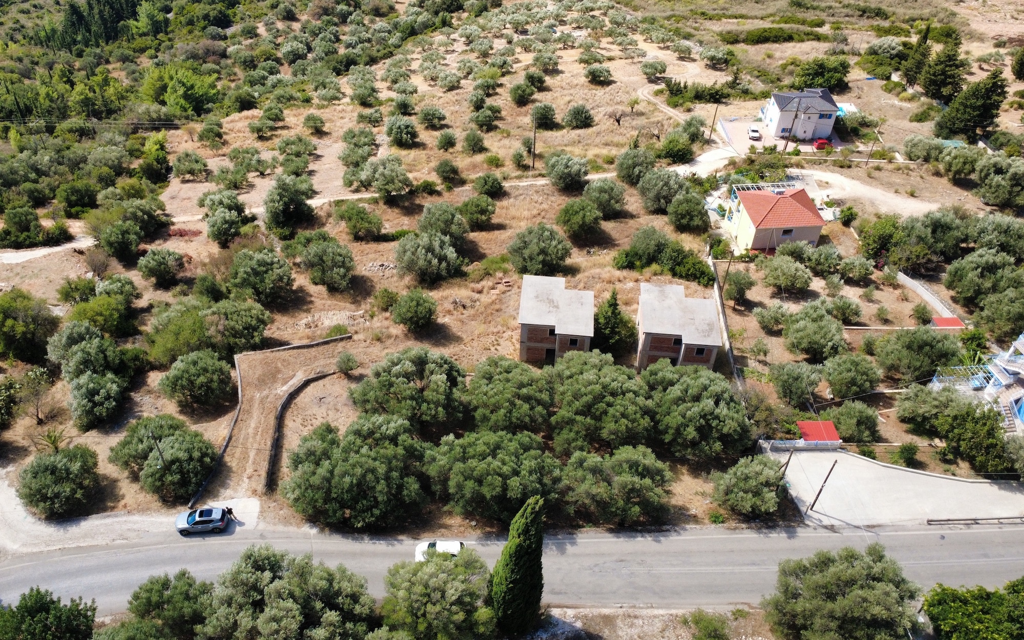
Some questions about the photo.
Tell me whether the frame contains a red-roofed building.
Yes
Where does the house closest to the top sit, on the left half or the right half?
right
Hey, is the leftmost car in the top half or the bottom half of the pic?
bottom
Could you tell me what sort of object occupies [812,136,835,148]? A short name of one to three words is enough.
vehicle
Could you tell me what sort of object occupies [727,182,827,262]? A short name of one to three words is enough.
house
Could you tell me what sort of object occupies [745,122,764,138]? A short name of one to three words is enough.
vehicle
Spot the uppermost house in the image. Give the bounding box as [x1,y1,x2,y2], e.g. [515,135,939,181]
[754,86,841,138]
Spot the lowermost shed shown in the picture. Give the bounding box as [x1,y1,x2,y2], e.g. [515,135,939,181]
[796,421,839,443]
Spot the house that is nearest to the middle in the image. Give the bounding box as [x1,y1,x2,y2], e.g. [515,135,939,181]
[519,276,595,380]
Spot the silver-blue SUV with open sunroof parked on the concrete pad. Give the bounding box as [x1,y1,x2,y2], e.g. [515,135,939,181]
[173,504,231,536]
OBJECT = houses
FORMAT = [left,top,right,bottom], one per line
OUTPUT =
[636,283,724,379]
[519,276,595,380]
[754,86,841,138]
[727,182,827,262]
[940,325,1024,424]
